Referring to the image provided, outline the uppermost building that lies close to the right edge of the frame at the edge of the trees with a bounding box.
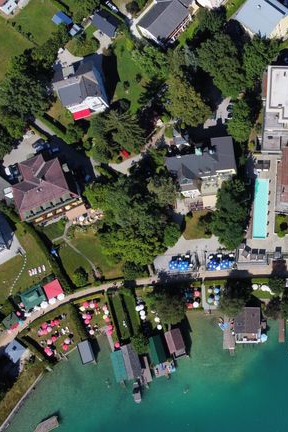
[236,0,288,40]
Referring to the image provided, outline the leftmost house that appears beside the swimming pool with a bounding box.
[165,136,238,208]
